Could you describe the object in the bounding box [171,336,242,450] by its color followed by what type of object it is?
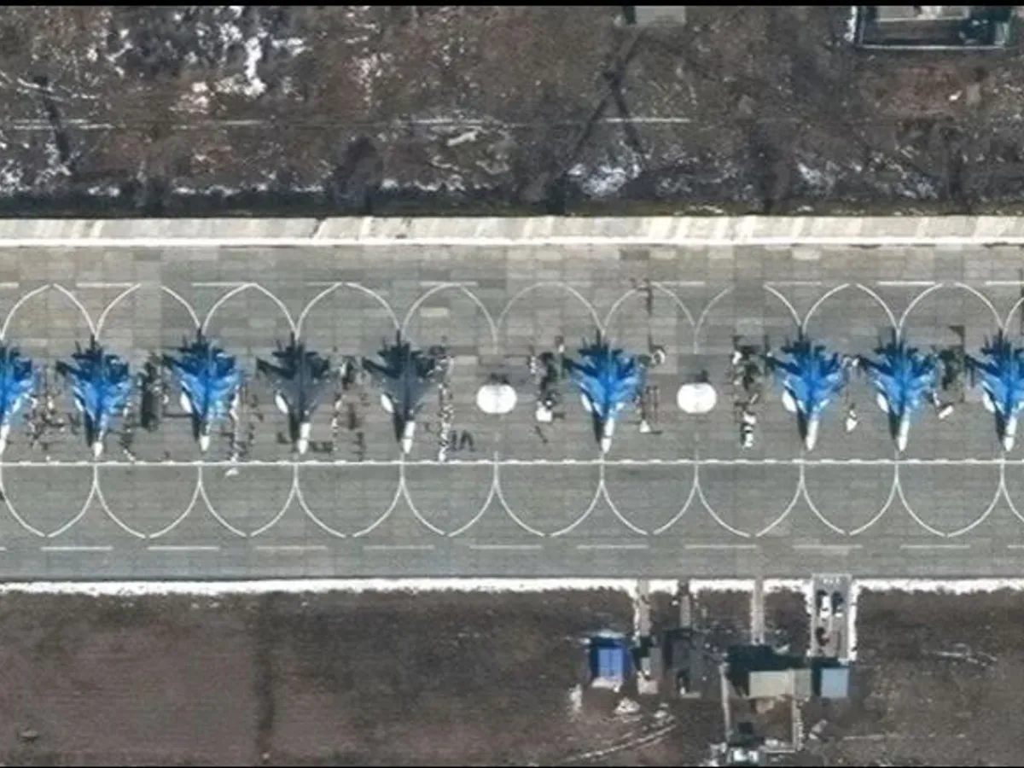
blue airplane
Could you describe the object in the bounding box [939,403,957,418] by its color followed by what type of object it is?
white vehicle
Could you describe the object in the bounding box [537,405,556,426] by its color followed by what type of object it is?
white vehicle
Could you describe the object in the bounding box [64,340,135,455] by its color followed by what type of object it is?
blue airplane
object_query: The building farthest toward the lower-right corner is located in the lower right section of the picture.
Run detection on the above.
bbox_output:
[815,668,847,696]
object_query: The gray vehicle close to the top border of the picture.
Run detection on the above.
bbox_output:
[994,20,1009,42]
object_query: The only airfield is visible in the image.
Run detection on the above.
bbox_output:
[0,244,1024,584]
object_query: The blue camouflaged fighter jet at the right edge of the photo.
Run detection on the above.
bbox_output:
[979,340,1024,451]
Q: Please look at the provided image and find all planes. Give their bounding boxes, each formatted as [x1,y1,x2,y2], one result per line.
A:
[870,339,937,450]
[64,340,135,455]
[373,338,443,452]
[269,338,339,452]
[979,340,1024,451]
[171,336,242,450]
[572,339,641,452]
[777,338,845,450]
[0,338,39,453]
